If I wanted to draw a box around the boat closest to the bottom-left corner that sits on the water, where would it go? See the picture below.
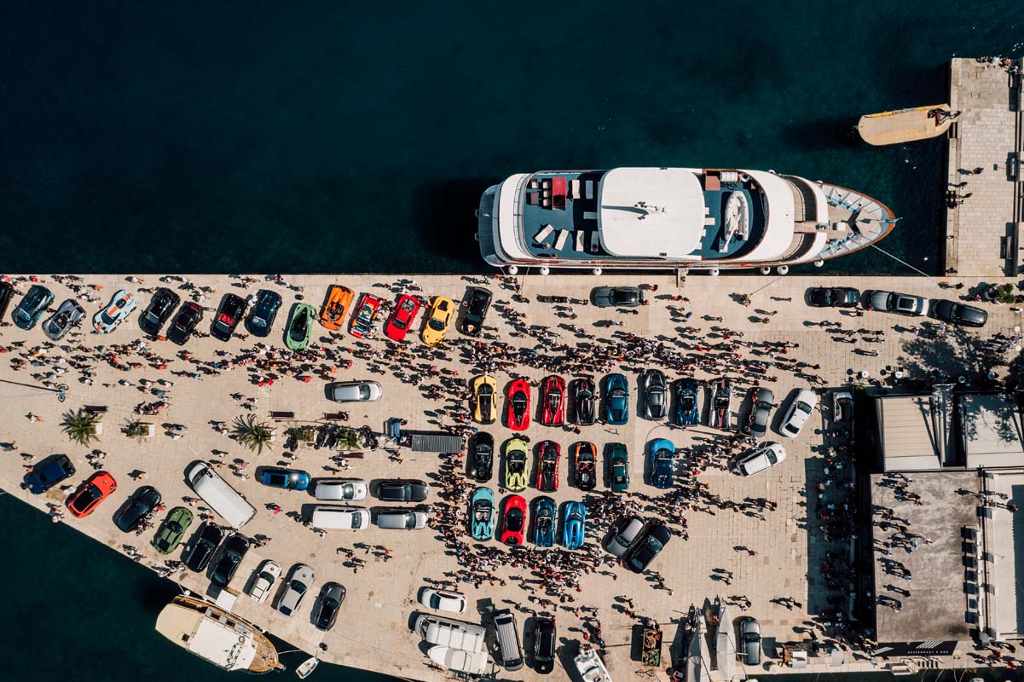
[152,592,291,680]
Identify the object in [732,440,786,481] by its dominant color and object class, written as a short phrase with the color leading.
white car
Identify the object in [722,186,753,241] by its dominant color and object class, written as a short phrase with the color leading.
white boat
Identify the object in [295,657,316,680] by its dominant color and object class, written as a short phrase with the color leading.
white boat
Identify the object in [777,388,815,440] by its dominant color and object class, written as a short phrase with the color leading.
white car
